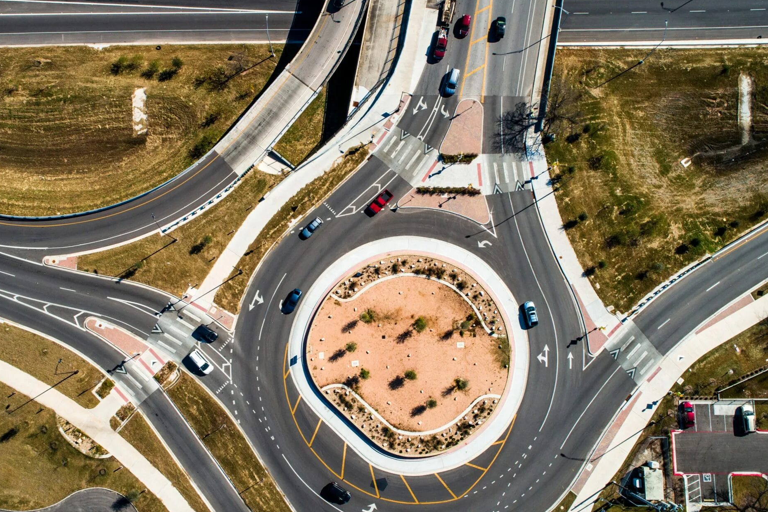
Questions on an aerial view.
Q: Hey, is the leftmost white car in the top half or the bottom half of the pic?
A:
bottom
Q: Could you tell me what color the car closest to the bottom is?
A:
black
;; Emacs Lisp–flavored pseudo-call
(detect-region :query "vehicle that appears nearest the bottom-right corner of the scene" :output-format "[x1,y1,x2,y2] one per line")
[739,404,758,433]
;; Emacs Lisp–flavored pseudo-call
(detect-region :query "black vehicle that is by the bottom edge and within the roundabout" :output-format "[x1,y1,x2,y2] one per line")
[325,484,351,504]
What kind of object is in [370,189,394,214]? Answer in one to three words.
truck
